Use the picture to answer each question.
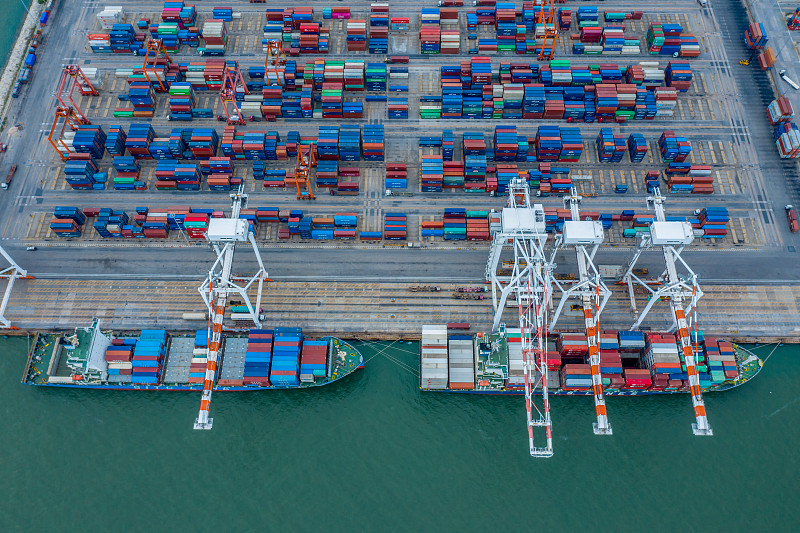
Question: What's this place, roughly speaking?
port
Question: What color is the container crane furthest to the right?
white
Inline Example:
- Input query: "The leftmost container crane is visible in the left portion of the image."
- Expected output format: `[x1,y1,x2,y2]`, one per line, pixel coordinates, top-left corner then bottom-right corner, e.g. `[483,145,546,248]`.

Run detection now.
[0,247,33,328]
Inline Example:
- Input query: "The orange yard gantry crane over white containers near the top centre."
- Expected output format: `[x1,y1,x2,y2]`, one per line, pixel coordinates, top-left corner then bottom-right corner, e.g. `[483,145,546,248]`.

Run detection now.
[537,6,560,60]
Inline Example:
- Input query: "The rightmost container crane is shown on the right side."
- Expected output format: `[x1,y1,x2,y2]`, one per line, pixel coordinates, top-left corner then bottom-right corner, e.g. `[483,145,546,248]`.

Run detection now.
[614,186,714,432]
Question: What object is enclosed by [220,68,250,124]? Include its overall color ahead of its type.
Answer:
red container crane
